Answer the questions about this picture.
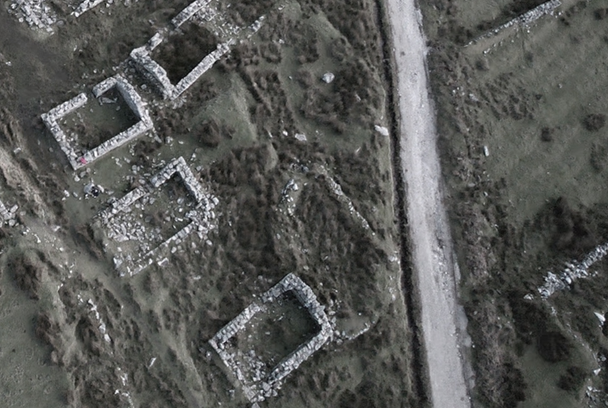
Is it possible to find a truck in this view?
No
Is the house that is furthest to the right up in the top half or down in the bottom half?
bottom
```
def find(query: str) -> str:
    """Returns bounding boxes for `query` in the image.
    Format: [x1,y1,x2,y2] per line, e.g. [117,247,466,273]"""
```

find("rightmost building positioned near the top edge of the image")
[124,0,267,107]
